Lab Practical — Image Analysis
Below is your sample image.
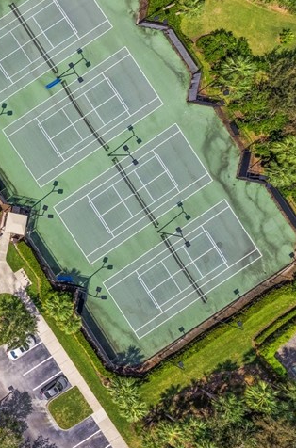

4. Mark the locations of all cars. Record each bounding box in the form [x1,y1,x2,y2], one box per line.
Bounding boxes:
[37,372,66,396]
[8,335,38,359]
